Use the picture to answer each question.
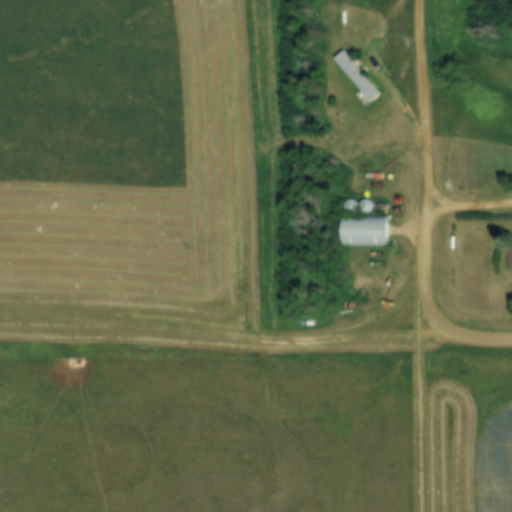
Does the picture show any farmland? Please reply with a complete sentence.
Yes, there's farmland in this view.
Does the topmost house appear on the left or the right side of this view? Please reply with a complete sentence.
The topmost house appears in the right half of the scene.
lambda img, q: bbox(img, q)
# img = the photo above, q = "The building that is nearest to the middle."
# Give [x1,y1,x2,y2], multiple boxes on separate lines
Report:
[340,218,391,246]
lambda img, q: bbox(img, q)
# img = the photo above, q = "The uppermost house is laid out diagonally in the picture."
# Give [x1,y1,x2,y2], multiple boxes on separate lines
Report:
[334,50,380,104]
